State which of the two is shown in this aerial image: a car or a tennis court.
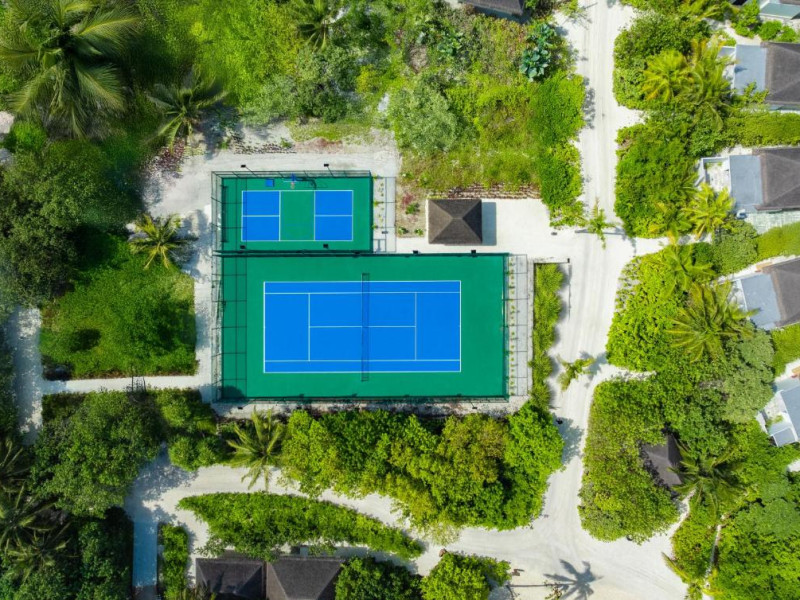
tennis court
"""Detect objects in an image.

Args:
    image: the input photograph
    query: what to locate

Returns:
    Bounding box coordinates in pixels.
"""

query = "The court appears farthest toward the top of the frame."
[223,178,373,255]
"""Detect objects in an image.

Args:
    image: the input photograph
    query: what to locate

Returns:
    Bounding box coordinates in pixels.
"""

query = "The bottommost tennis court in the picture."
[223,256,504,397]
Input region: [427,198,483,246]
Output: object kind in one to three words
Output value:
building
